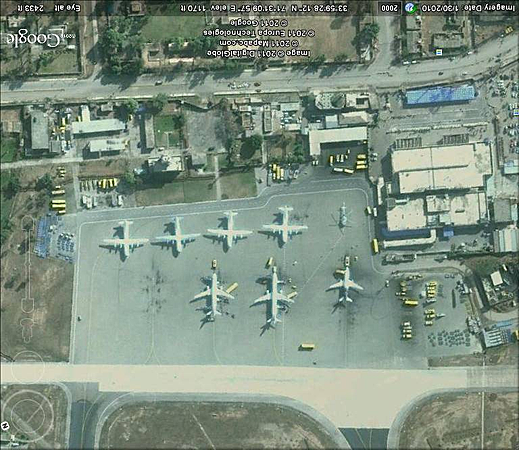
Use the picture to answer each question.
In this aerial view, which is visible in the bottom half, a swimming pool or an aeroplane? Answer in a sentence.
The one visible in the bottom half is an aeroplane.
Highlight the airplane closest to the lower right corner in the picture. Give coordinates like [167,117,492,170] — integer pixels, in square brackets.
[328,268,366,304]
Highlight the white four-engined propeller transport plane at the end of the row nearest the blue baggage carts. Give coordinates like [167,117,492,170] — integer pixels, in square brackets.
[103,219,149,256]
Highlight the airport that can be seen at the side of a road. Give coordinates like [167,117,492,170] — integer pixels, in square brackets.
[0,179,519,450]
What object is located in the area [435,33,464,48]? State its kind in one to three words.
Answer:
house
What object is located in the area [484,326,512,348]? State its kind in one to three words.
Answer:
shed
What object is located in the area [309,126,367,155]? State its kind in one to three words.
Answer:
hangar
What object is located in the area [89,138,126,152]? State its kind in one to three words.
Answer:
building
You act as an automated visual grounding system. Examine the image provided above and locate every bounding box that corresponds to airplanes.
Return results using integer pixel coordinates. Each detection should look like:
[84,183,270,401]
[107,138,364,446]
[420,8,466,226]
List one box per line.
[263,206,309,242]
[195,273,236,316]
[156,215,201,251]
[103,219,149,256]
[328,268,366,304]
[252,267,299,323]
[207,210,253,247]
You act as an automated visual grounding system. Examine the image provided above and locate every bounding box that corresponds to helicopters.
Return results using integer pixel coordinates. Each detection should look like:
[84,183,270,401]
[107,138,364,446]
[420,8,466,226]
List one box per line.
[332,205,356,233]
